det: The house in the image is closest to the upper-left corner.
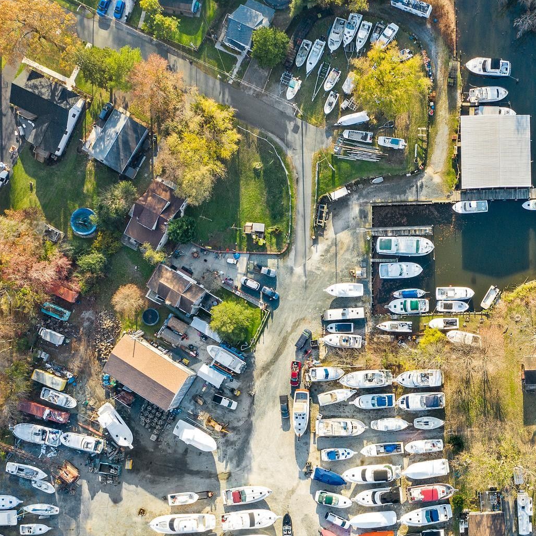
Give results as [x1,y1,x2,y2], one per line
[9,68,89,159]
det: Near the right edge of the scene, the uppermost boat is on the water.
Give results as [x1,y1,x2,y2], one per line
[465,57,513,78]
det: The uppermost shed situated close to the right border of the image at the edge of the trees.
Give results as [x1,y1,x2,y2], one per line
[460,113,531,192]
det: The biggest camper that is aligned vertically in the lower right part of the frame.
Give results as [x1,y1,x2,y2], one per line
[516,492,532,534]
